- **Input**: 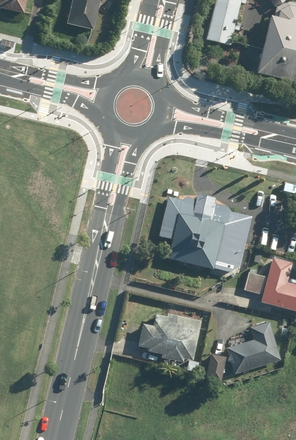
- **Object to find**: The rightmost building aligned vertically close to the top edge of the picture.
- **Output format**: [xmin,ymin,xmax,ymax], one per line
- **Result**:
[258,2,296,83]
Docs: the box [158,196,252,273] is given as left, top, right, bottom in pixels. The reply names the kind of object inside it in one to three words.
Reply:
house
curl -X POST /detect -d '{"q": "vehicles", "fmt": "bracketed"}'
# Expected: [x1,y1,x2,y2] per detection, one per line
[214,340,222,356]
[268,195,277,211]
[58,375,66,391]
[260,228,270,246]
[93,318,102,333]
[99,0,110,16]
[256,192,264,208]
[142,352,158,362]
[156,64,163,78]
[98,302,106,316]
[288,238,296,252]
[40,417,48,432]
[89,296,98,312]
[270,234,279,251]
[104,231,113,248]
